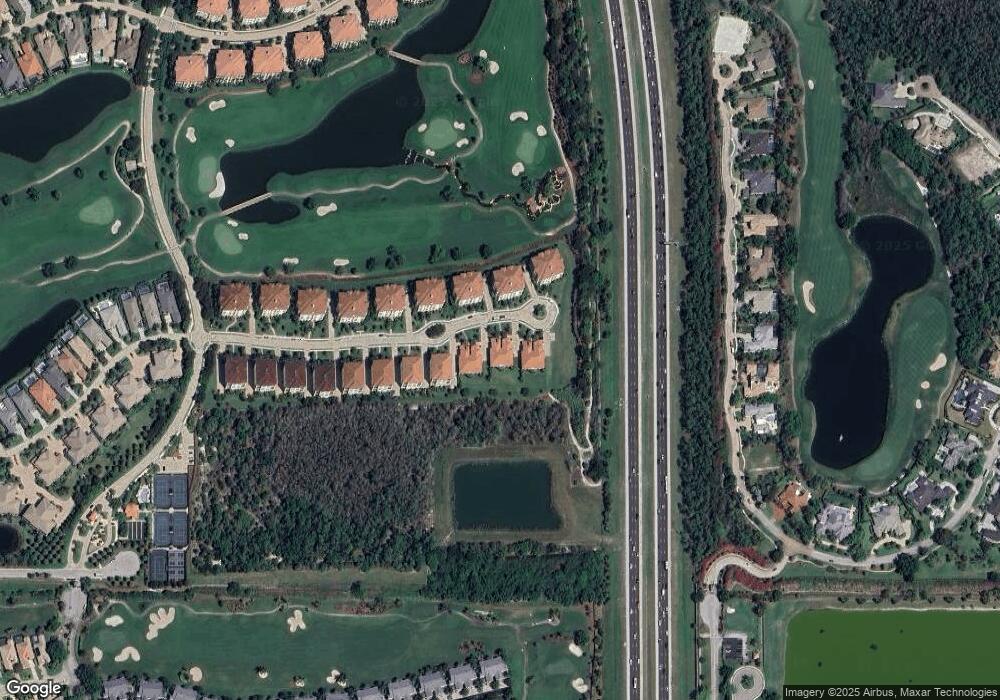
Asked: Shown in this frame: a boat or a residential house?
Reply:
residential house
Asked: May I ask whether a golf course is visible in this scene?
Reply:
Yes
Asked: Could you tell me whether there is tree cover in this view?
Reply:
Yes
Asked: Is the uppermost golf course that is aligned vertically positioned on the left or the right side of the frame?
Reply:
right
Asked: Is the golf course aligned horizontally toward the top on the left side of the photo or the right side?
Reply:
left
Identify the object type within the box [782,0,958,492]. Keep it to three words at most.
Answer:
golf course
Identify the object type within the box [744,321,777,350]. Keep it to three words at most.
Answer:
house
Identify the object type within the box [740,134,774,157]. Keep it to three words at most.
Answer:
house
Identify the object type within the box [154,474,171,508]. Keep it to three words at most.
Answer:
tennis court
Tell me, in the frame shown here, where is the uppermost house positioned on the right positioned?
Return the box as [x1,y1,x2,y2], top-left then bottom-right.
[747,50,778,79]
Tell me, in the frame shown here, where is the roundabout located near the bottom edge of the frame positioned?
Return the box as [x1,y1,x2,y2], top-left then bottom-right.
[731,665,765,698]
